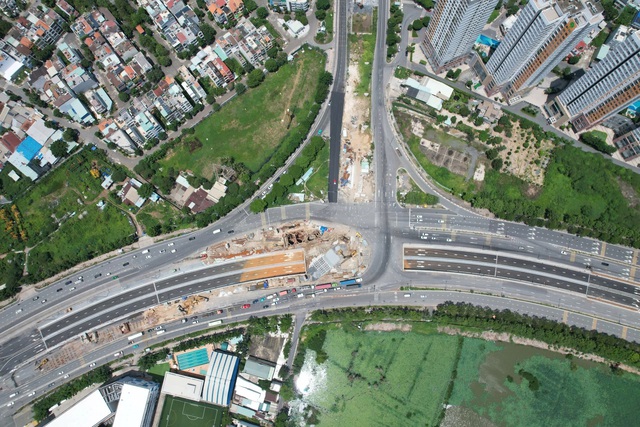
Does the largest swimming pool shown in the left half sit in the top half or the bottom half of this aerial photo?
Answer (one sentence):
The bottom half of the photo is where the largest swimming pool shown in the left half is.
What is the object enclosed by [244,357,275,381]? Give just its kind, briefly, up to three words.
building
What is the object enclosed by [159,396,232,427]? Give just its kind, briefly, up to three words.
soccer field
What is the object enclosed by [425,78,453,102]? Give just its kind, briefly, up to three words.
building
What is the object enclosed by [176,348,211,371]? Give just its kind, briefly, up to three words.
swimming pool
